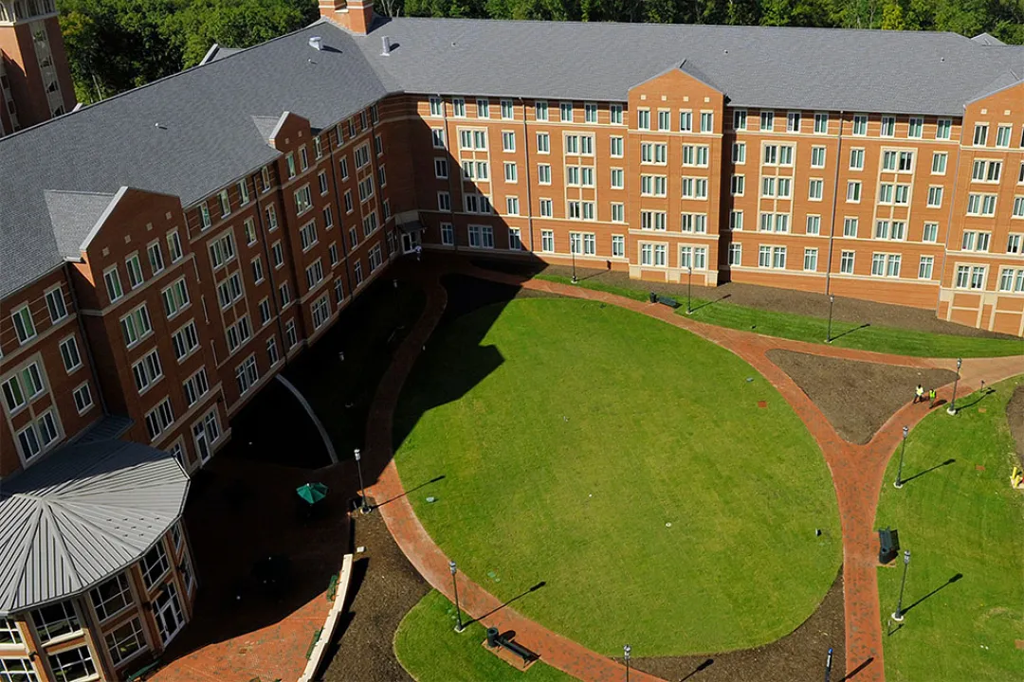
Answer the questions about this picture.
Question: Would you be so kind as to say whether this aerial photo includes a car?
No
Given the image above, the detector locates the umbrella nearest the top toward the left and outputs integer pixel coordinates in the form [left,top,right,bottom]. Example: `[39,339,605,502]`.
[289,479,324,507]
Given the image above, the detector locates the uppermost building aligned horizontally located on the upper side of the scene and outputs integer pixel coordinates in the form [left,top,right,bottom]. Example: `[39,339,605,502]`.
[0,0,1024,480]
